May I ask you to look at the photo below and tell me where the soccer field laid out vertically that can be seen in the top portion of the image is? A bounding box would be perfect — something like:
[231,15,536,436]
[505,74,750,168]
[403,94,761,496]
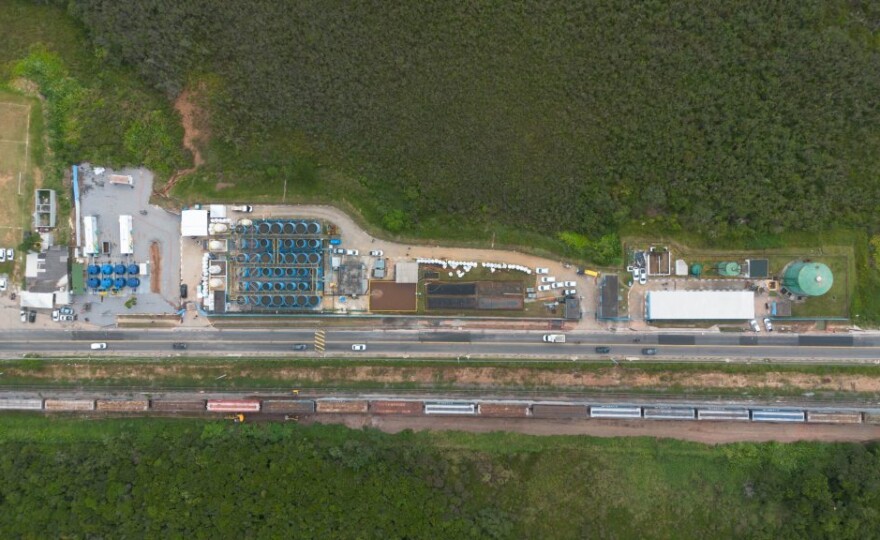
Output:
[0,103,31,242]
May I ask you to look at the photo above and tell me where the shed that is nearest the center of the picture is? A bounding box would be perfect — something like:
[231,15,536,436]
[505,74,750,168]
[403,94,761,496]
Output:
[396,263,419,283]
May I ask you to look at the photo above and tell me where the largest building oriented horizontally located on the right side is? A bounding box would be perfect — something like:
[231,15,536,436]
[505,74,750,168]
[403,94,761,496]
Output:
[645,288,755,319]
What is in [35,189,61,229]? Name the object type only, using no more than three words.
building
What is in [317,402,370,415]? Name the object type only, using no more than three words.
rail car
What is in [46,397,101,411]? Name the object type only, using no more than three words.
rail car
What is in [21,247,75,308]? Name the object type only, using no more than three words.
house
